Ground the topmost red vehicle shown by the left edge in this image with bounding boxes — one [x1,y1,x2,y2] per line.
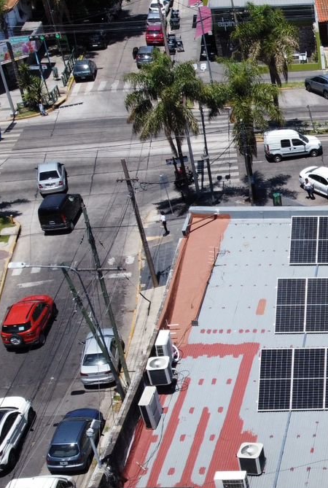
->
[0,291,57,351]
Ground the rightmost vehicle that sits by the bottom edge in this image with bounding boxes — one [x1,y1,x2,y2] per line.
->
[40,398,101,472]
